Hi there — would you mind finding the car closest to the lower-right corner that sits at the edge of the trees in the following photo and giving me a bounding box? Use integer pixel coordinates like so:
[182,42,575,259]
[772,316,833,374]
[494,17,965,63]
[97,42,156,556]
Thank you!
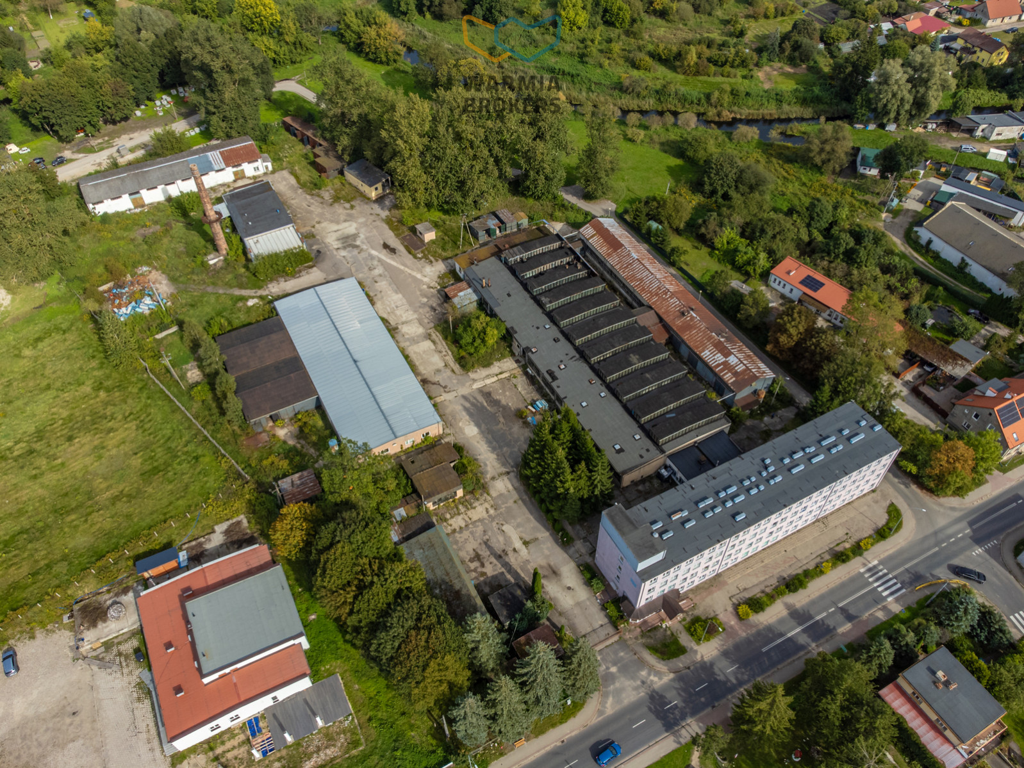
[956,563,989,584]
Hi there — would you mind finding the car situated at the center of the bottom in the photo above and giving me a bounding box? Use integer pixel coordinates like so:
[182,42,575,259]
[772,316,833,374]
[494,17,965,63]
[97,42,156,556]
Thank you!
[596,738,624,768]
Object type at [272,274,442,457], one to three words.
warehouse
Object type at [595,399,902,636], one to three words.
building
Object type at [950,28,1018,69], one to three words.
house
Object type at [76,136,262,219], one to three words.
shed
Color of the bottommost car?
blue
